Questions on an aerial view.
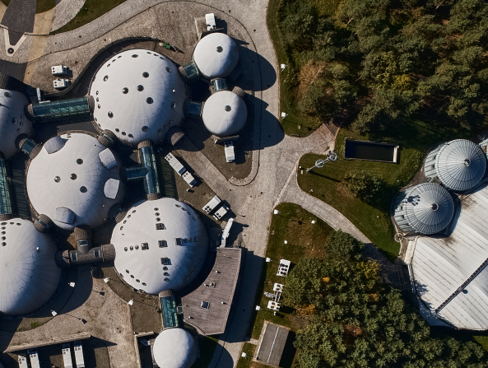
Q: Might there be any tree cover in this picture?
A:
Yes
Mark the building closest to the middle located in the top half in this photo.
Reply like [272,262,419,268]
[201,86,249,138]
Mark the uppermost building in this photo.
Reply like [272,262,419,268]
[193,31,241,78]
